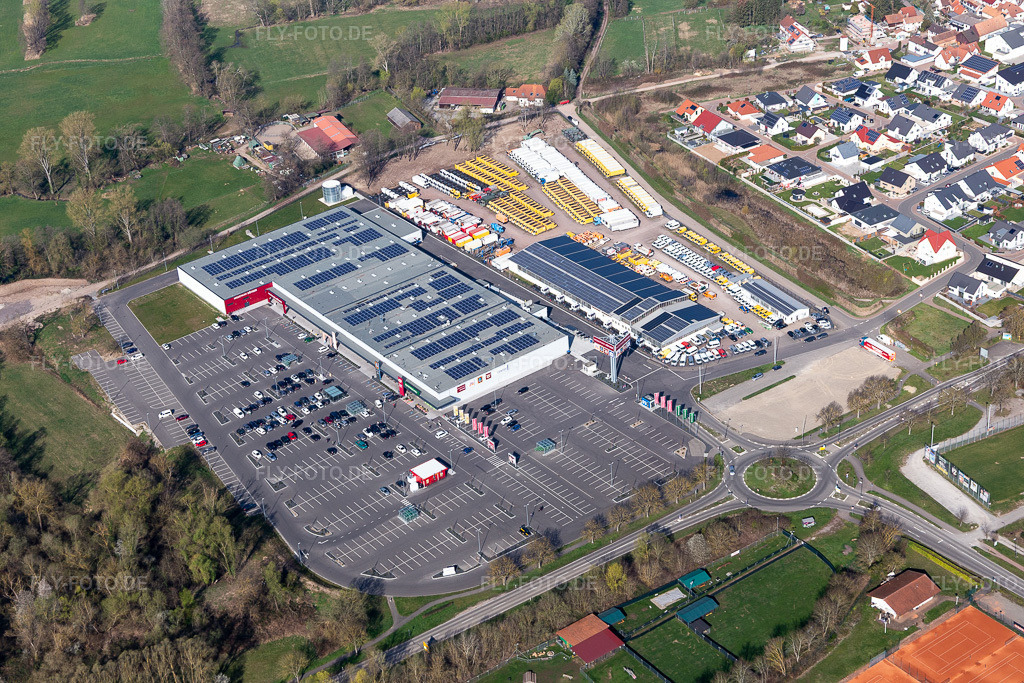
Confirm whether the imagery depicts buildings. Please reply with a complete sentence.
Yes, looking at the shot, I can spot a building.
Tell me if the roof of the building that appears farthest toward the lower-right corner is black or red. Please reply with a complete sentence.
In this view, the roof of the building that appears farthest toward the lower-right corner is red.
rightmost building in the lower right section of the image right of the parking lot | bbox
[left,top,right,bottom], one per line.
[865,572,943,626]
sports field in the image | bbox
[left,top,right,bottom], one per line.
[937,424,1024,512]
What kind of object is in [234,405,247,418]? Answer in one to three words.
vehicle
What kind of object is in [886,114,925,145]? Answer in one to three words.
house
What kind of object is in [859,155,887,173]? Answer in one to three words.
building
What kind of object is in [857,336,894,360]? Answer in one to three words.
truck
